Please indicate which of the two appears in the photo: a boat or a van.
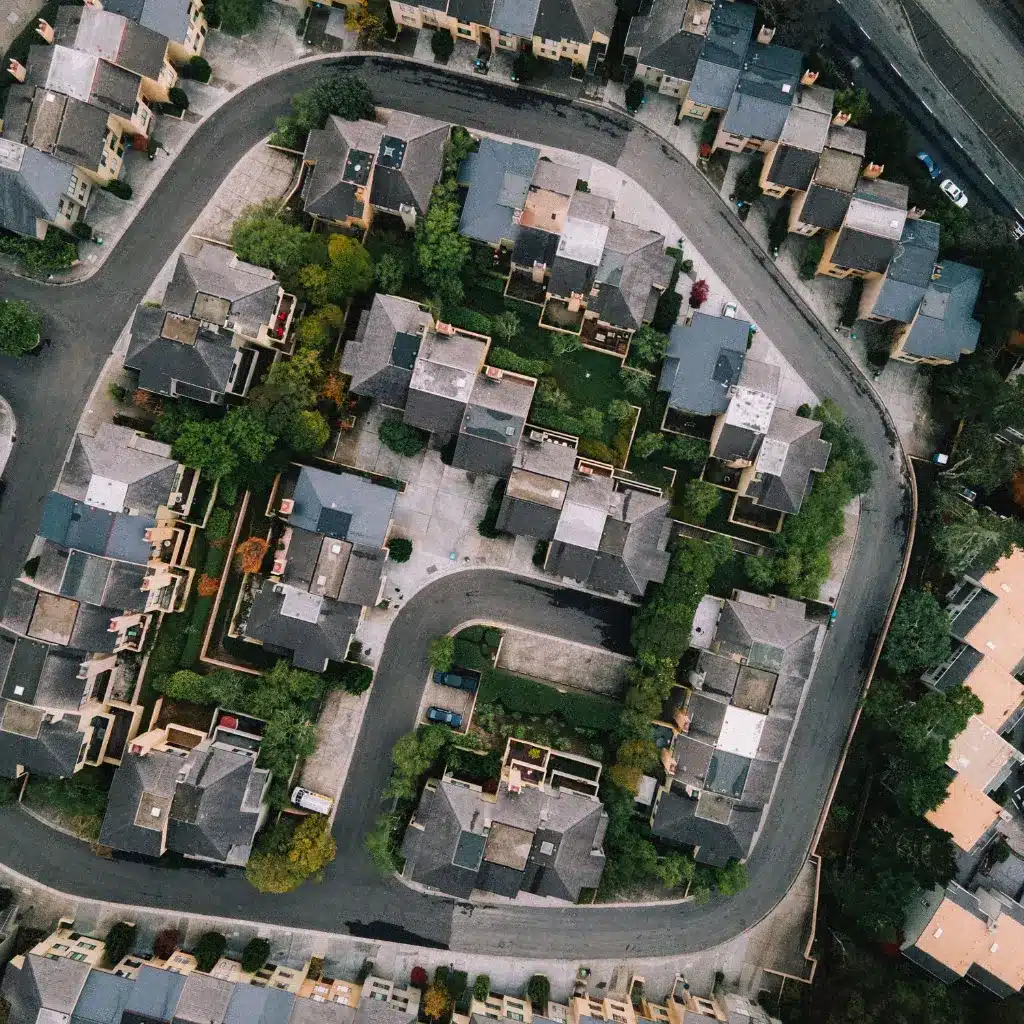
van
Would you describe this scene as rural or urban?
urban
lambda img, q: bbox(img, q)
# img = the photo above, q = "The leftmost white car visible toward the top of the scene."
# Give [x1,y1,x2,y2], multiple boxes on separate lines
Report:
[720,294,739,319]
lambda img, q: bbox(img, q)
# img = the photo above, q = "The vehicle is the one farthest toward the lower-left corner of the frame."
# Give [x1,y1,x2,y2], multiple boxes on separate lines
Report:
[289,787,334,815]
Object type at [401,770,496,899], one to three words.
house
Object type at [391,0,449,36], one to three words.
house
